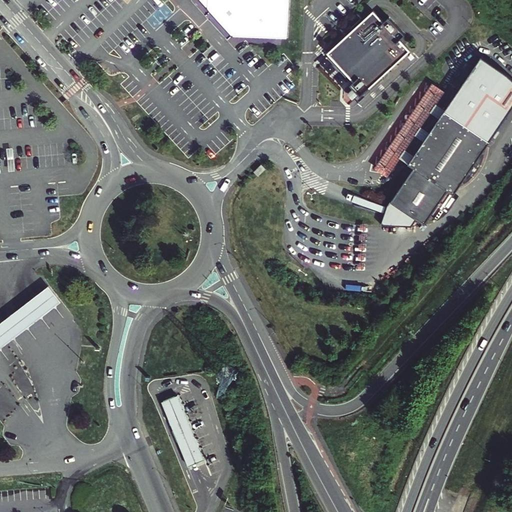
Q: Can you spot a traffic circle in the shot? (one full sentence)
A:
Yes, the picture does show a traffic circle.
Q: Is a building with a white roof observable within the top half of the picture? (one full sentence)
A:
Yes, I can see a building with a white roof within the top half of the picture.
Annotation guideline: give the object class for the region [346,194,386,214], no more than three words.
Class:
vehicle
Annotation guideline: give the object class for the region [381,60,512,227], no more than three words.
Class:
warehouse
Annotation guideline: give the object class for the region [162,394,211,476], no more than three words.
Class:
building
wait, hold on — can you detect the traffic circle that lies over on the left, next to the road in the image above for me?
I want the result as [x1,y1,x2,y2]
[68,153,228,408]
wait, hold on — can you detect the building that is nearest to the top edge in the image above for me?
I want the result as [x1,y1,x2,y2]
[190,0,288,45]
